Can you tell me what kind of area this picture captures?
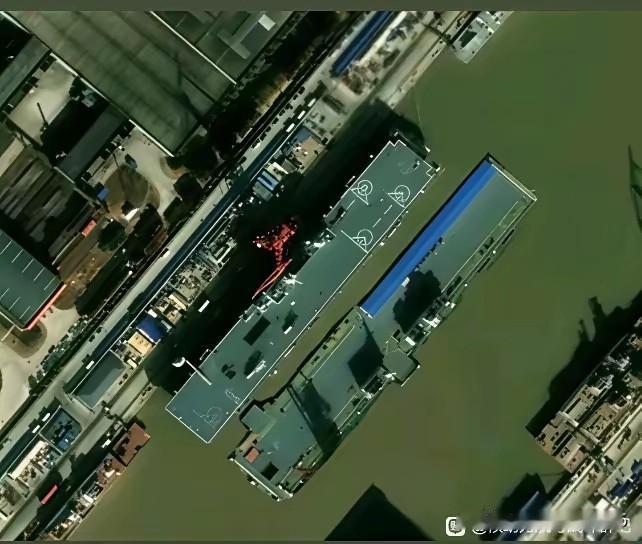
port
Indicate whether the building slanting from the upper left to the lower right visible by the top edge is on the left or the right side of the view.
left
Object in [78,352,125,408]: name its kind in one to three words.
shed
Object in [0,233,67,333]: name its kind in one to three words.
building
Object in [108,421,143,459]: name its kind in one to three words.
ship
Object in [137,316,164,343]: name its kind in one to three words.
shed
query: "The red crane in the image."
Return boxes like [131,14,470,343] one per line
[253,224,293,298]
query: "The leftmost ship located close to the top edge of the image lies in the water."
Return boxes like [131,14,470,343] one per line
[451,18,494,65]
